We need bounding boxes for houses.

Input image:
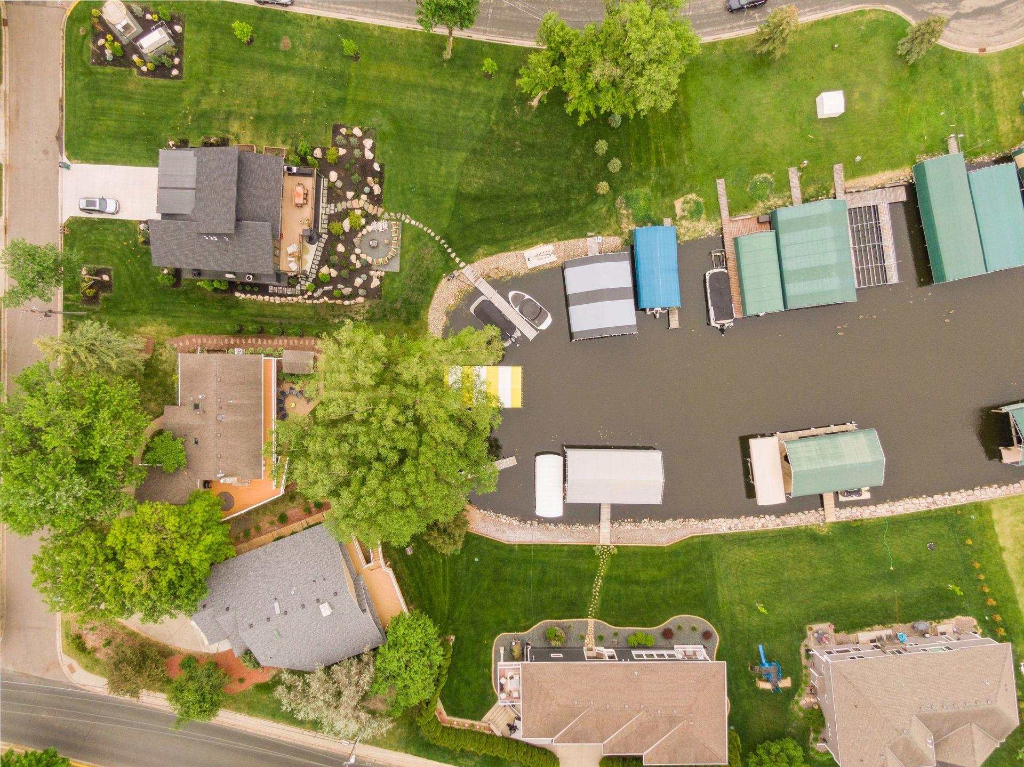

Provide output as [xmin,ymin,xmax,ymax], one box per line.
[804,627,1019,767]
[148,146,323,286]
[135,353,288,522]
[192,519,408,671]
[481,633,728,765]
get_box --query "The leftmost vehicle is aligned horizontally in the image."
[74,194,117,213]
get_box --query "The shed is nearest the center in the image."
[282,350,318,374]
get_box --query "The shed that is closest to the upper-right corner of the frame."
[815,90,845,118]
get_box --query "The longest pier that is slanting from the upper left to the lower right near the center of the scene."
[460,264,540,341]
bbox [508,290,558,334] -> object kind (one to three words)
boat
